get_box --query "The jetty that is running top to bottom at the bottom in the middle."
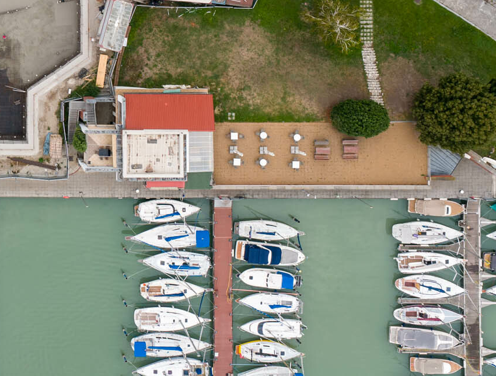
[203,194,239,376]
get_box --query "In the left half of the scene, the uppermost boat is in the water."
[132,200,203,229]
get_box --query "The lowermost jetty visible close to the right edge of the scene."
[397,194,496,376]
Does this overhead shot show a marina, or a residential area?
marina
